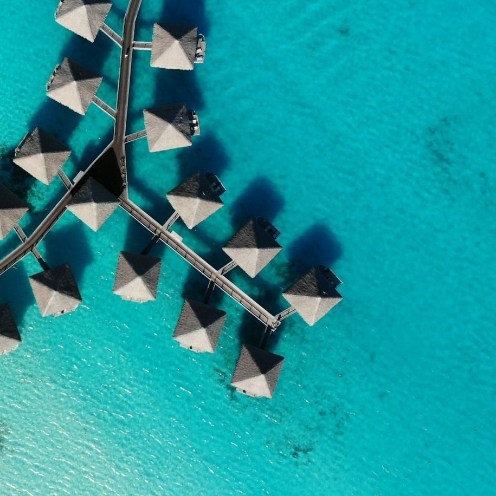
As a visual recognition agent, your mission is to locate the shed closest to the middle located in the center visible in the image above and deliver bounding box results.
[222,216,284,278]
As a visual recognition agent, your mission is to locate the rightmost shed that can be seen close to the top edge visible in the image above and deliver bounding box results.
[149,21,206,72]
